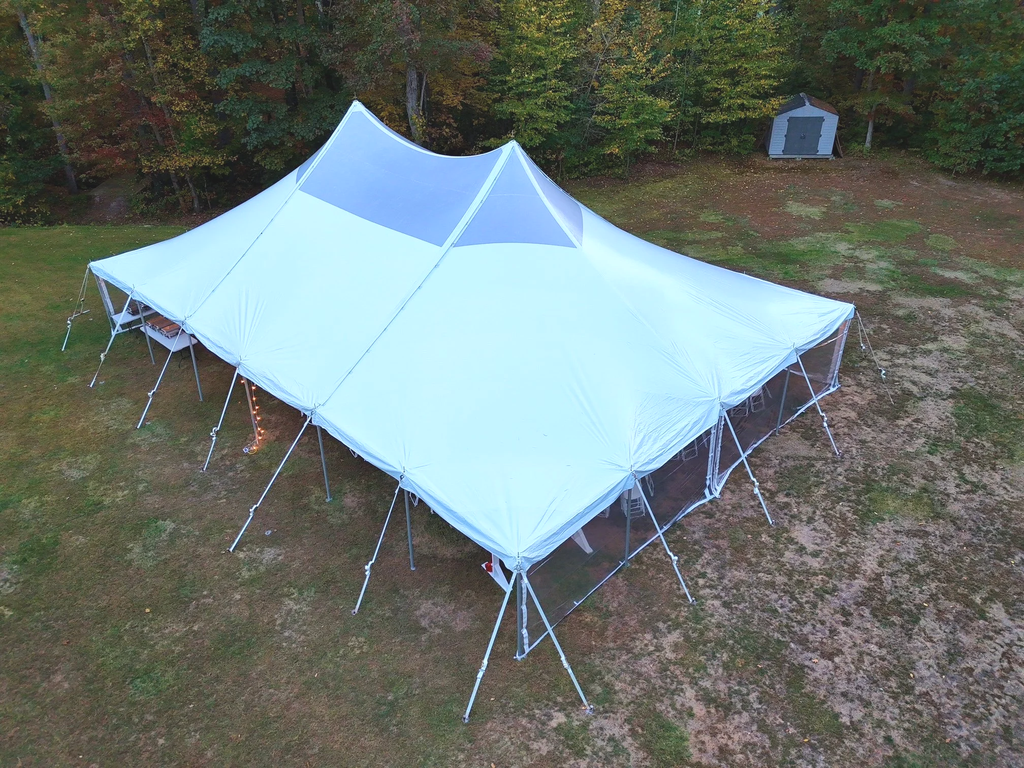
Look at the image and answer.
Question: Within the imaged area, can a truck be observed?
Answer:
No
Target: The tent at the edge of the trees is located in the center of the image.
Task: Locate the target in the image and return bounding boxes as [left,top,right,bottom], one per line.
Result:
[61,88,895,722]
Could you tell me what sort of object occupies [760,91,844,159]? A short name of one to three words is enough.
shed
